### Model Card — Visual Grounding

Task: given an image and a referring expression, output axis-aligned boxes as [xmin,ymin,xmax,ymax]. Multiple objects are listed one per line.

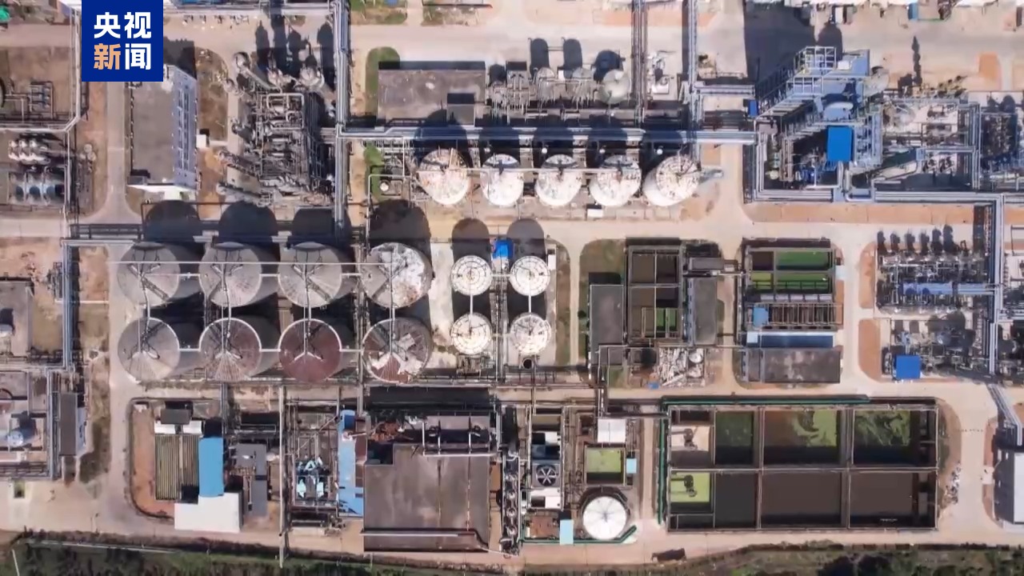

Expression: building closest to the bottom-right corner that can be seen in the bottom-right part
[991,442,1024,524]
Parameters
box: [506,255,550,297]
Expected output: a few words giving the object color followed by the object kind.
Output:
white storage tank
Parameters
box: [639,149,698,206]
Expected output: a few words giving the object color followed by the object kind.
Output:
white storage tank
